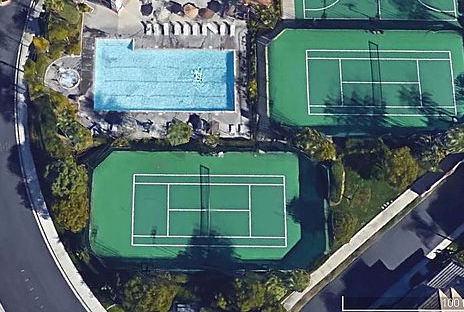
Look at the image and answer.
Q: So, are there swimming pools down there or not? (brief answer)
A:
Yes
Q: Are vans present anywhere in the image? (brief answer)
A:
No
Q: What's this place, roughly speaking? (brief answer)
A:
sports ground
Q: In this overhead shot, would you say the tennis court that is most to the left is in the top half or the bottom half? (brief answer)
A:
bottom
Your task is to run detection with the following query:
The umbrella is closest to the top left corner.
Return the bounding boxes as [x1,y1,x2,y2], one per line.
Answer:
[155,6,172,20]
